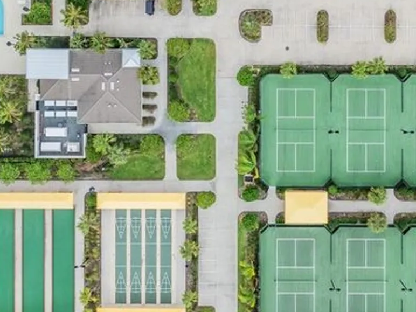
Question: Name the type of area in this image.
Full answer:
This image shows a sports ground.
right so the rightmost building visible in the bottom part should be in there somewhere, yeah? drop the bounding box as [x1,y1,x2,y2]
[284,191,328,223]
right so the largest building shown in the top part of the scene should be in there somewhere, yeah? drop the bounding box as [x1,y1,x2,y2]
[26,47,142,158]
